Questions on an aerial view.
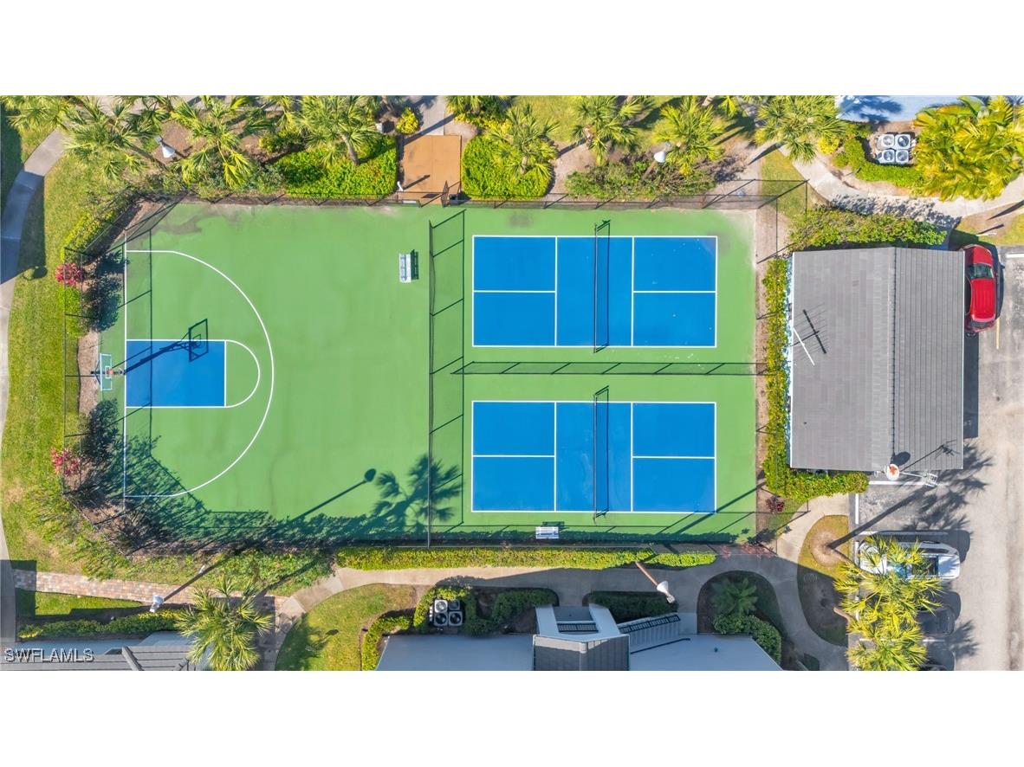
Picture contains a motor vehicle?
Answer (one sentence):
Yes, the photo shows a motor vehicle.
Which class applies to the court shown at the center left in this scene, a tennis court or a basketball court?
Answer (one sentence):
From above, the court shown at the center left can be identified as a basketball court.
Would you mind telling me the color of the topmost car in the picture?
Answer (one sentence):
The topmost car is red.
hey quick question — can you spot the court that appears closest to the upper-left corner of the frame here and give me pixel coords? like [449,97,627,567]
[100,204,433,541]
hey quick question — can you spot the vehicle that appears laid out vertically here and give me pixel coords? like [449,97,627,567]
[962,249,1001,336]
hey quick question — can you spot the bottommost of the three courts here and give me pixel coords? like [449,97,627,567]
[433,374,755,541]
